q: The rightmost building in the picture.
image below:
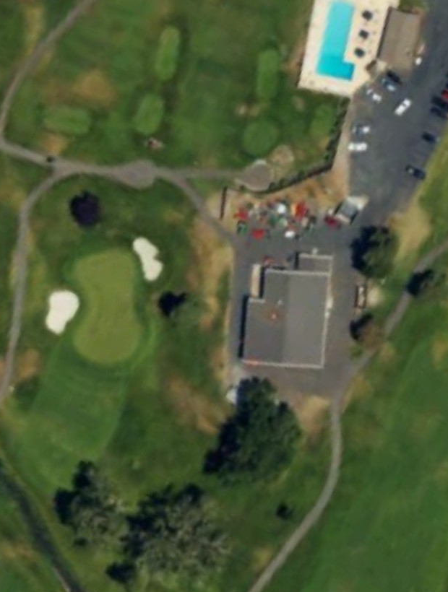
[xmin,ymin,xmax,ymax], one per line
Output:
[379,9,422,77]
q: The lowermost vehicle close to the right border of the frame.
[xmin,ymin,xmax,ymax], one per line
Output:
[404,165,427,179]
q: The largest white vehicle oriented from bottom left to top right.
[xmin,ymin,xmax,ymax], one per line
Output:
[395,98,412,115]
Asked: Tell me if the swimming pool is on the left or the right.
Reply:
right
